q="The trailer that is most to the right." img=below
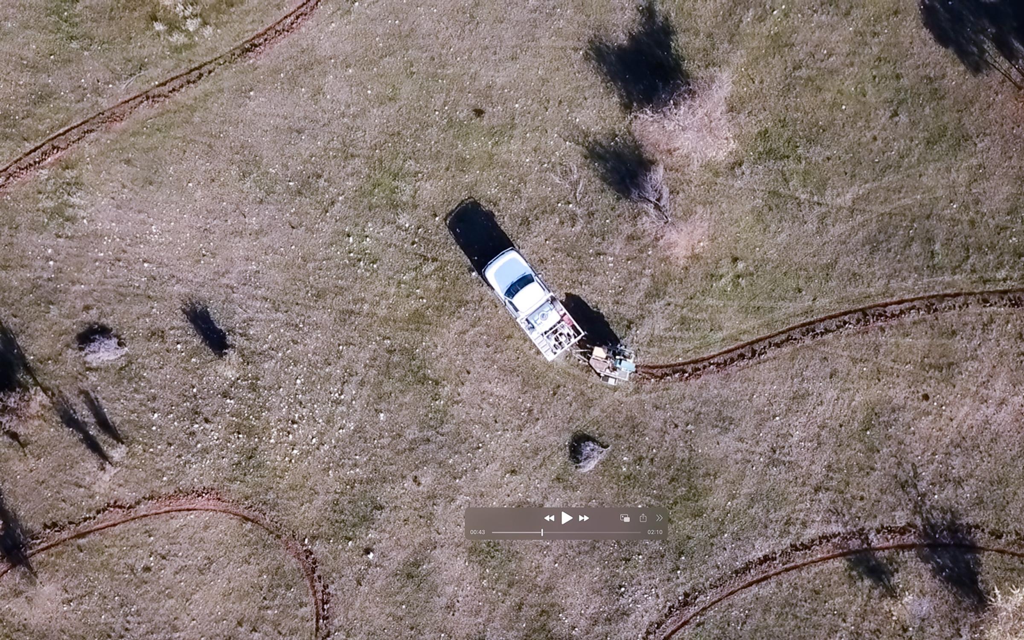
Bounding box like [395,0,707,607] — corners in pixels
[570,340,638,386]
